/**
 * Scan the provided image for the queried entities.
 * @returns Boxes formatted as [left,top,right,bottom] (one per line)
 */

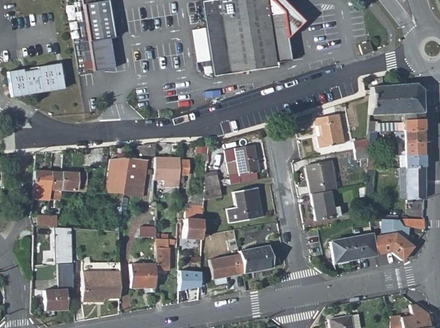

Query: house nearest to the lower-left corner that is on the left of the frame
[42,288,70,312]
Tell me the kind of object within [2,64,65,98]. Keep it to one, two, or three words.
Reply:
building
